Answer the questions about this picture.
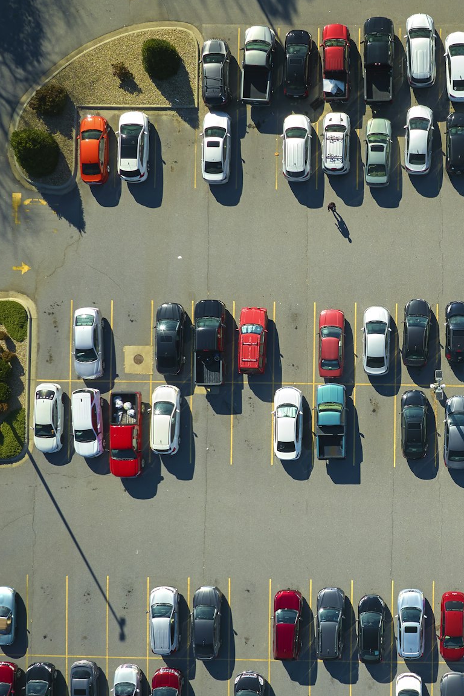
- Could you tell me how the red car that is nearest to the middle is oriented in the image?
from top to bottom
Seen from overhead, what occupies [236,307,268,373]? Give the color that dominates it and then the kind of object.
red car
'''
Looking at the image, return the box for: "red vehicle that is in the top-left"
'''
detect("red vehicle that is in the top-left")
[76,116,109,184]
